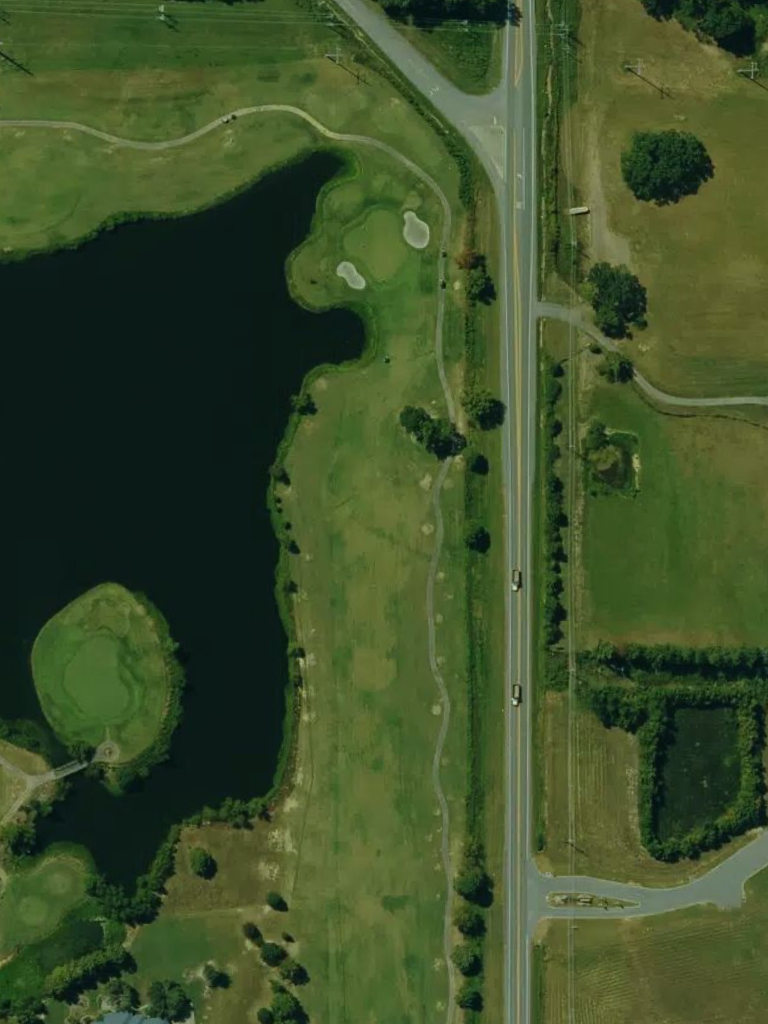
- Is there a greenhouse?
No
